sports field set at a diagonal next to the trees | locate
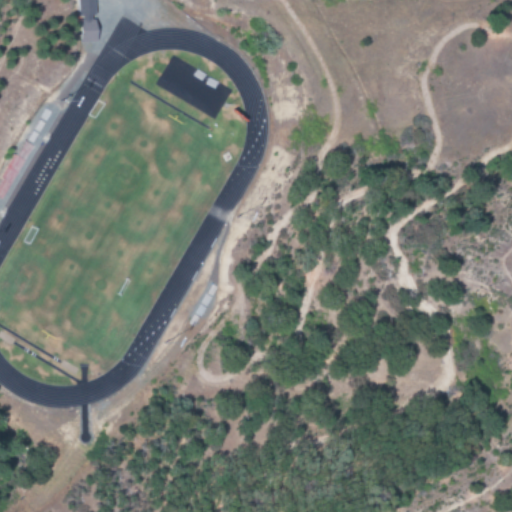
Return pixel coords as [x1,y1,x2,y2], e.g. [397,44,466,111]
[0,50,247,385]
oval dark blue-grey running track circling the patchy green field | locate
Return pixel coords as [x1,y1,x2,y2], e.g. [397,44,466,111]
[0,17,269,407]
